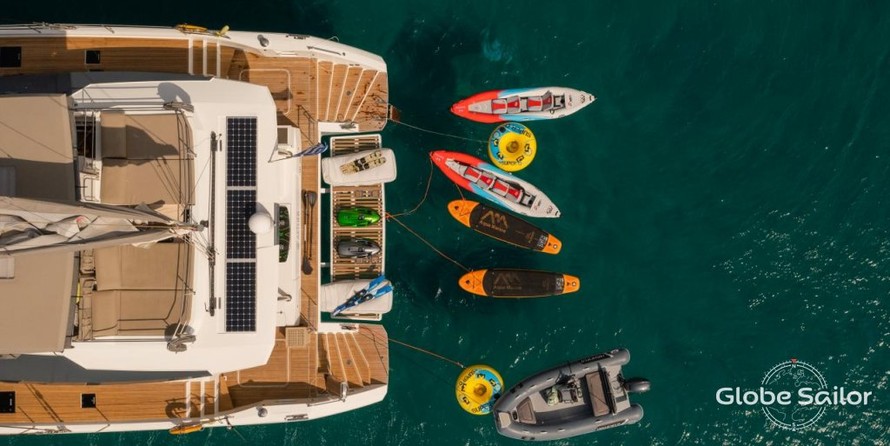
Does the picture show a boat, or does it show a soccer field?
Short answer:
boat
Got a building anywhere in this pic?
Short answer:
No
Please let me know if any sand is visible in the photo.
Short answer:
No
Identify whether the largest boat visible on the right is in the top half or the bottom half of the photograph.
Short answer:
bottom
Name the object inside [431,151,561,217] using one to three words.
boat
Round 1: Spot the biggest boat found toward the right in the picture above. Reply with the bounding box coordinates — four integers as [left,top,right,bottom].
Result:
[492,348,650,443]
